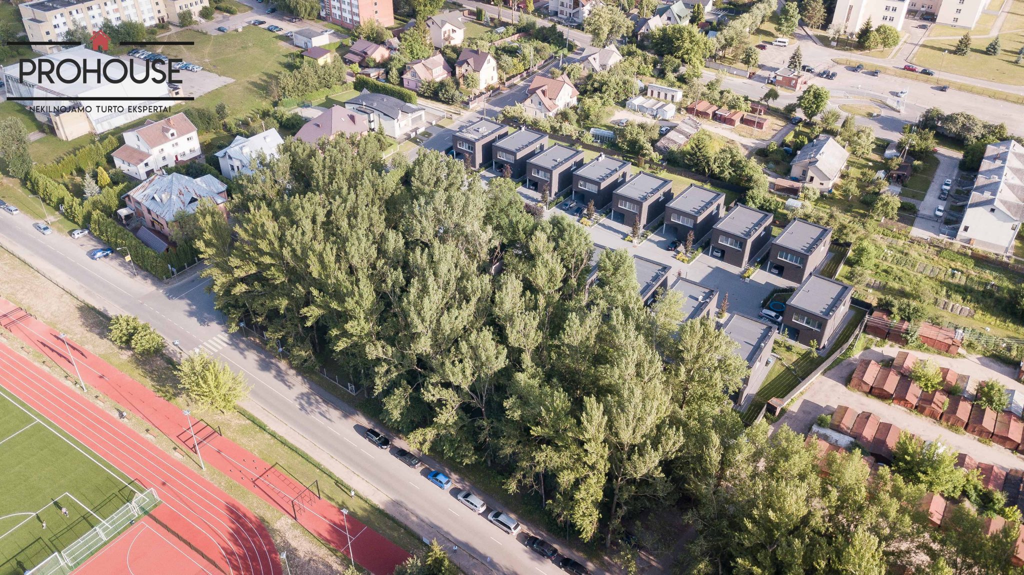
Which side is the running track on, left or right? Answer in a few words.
left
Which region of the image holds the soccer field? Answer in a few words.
bottom left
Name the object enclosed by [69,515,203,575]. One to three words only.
sports court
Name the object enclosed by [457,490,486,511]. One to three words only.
car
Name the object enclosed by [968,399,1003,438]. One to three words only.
building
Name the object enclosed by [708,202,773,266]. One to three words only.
house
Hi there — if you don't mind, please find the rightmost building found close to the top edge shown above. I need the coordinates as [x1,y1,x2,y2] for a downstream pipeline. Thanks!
[935,0,993,30]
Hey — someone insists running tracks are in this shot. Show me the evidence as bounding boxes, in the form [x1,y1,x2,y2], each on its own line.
[0,339,282,575]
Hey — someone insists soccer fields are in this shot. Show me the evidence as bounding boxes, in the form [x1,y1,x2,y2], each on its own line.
[0,384,162,575]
